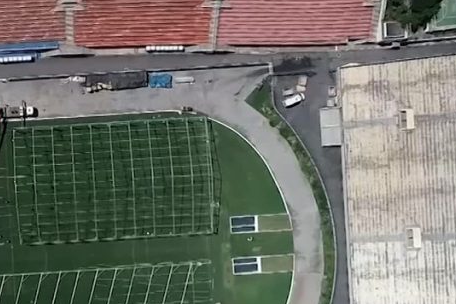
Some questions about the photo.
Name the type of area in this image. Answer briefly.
sports ground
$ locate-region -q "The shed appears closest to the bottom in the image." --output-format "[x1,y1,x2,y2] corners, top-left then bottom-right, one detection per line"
[316,107,342,146]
